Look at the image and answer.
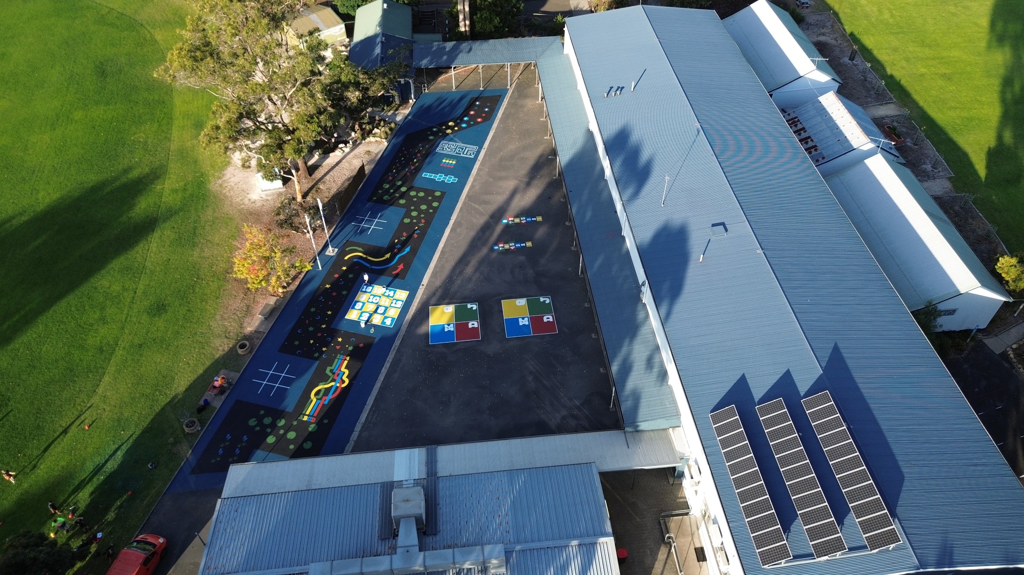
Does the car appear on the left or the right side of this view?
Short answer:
left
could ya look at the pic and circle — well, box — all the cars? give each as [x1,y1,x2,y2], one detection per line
[106,534,160,575]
